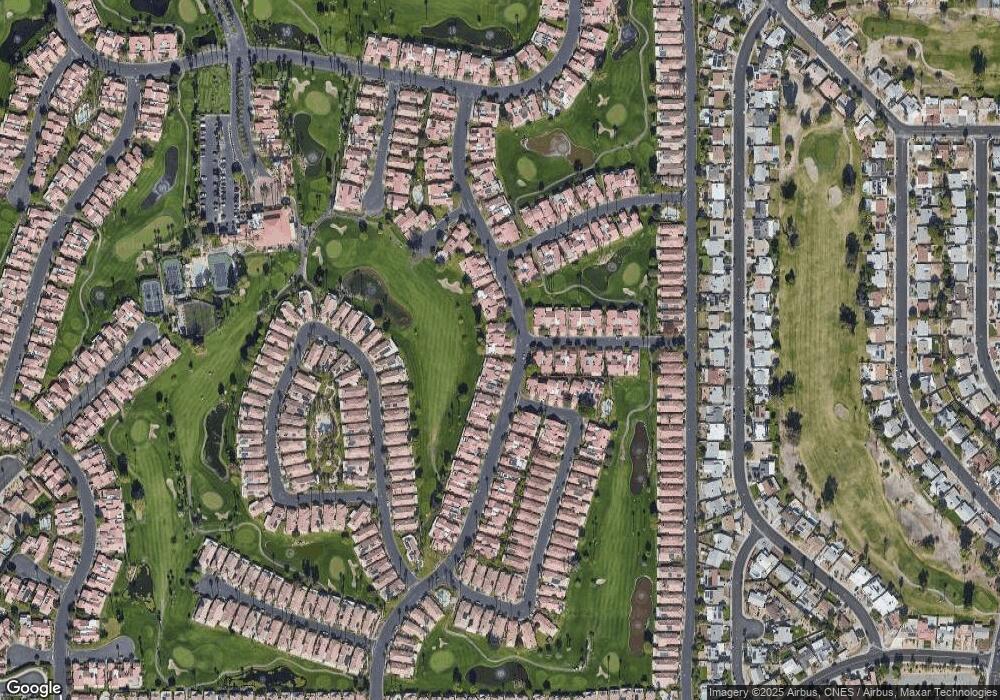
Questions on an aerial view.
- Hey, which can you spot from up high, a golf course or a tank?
golf course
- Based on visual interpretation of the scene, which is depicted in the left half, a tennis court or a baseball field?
tennis court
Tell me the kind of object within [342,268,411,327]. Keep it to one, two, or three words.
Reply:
pond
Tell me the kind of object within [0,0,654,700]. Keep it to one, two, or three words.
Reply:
golf course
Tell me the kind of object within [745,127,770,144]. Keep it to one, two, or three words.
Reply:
house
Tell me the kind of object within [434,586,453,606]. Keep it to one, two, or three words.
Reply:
swimming pool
